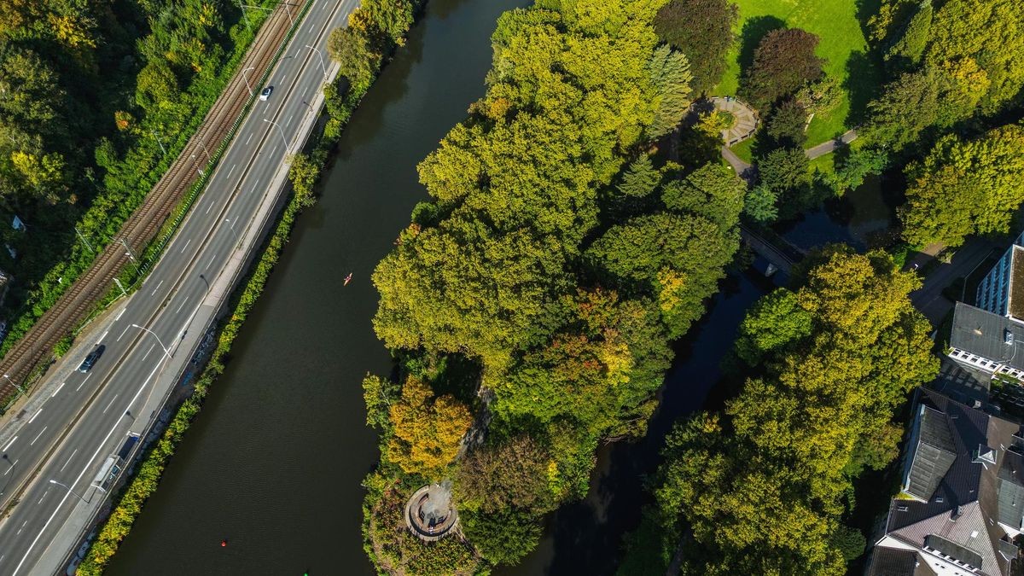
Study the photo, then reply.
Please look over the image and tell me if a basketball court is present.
No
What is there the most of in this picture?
trees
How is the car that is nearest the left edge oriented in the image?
on a diagonal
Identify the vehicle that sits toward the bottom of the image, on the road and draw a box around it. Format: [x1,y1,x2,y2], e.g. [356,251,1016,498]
[80,348,101,370]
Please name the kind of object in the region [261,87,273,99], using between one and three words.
vehicle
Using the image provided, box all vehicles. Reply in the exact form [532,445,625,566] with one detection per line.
[80,348,101,370]
[261,87,273,99]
